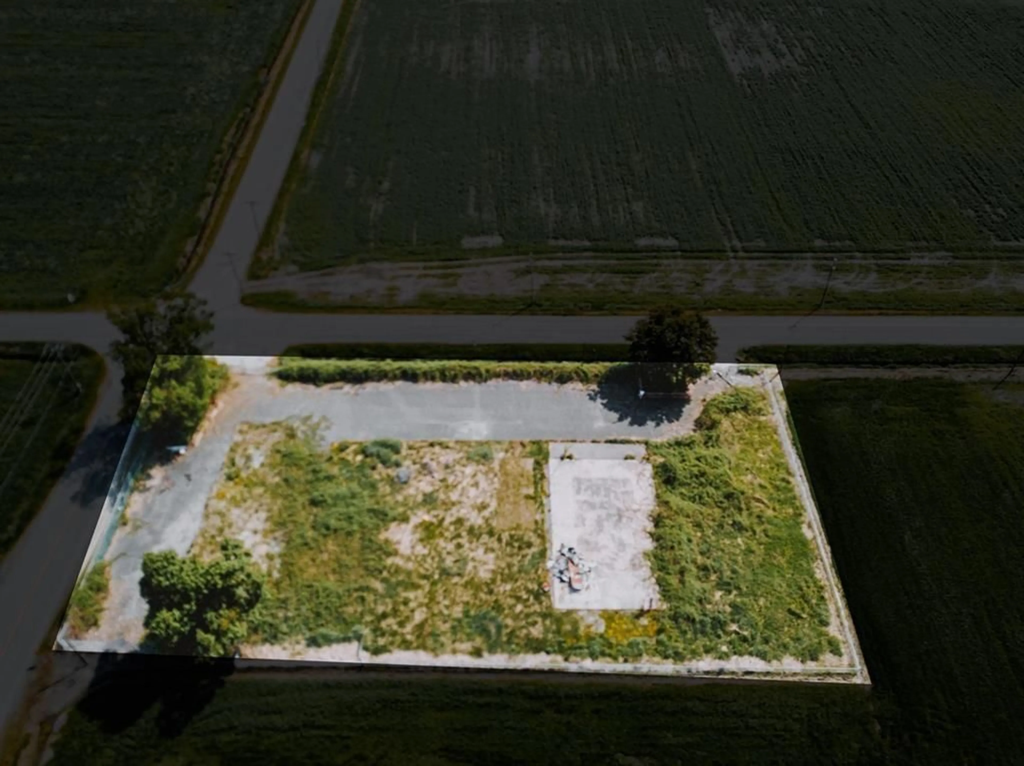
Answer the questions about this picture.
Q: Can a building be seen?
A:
No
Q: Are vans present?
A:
No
